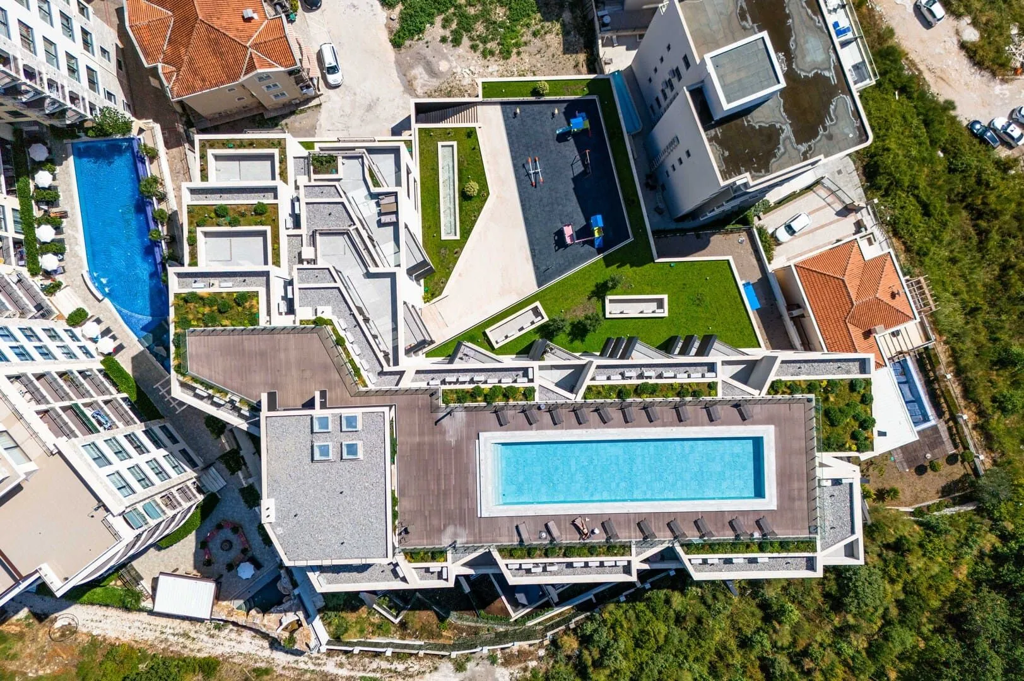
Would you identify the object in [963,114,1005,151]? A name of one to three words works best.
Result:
car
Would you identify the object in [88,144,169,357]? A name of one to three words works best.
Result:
swimming pool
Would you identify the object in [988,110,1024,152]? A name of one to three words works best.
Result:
car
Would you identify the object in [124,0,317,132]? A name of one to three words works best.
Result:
house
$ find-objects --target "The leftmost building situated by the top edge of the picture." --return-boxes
[0,0,128,143]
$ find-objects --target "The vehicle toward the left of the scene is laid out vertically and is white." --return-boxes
[316,37,344,87]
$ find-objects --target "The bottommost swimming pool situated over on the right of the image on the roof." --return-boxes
[510,437,759,501]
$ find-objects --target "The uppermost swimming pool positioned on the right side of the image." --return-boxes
[614,74,640,137]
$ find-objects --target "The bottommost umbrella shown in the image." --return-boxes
[237,559,257,579]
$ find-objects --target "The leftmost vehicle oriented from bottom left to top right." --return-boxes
[773,209,817,243]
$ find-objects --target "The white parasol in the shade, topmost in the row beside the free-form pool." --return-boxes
[30,142,56,162]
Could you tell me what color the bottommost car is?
white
